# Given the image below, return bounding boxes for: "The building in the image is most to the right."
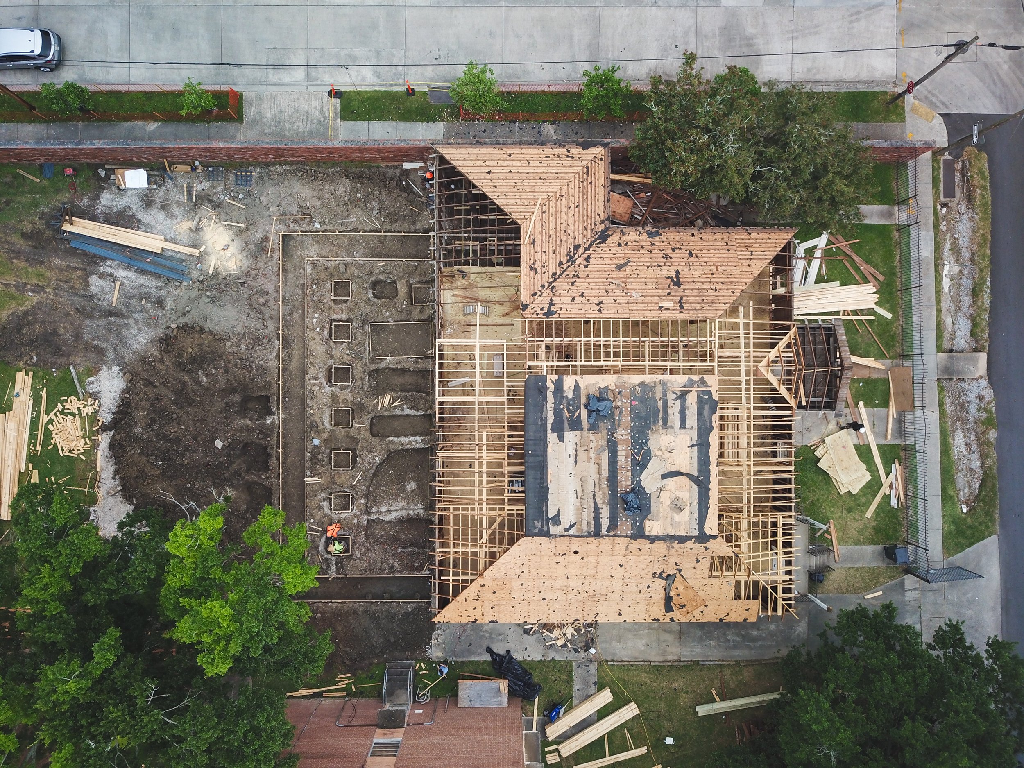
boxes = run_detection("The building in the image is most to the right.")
[425,142,853,624]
